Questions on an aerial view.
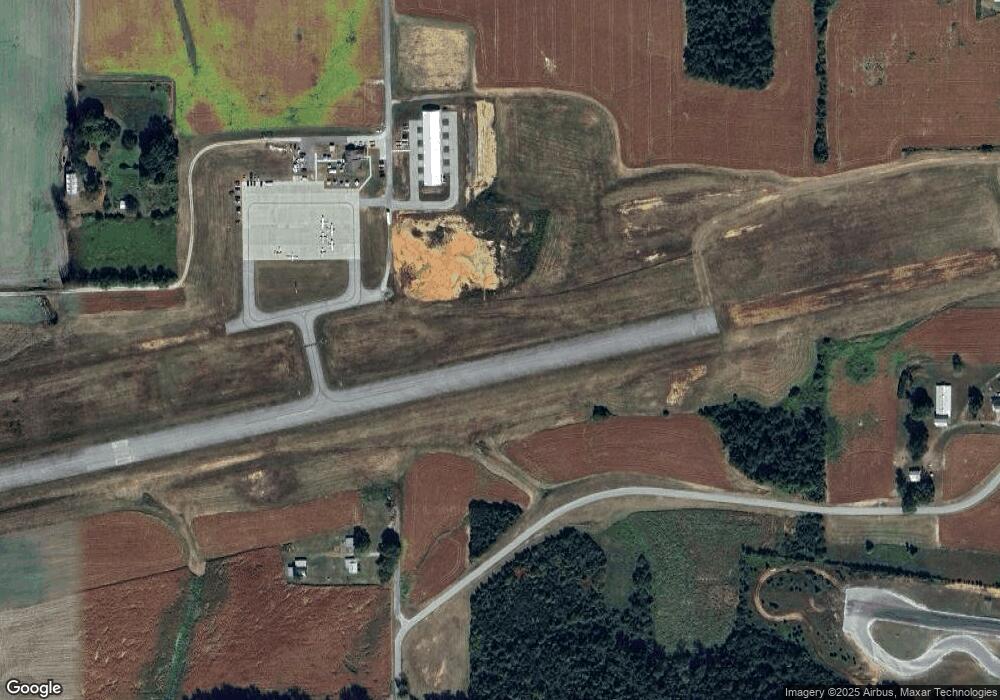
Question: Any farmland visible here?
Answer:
Yes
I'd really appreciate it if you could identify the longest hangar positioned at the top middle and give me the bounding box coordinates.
[423,111,443,189]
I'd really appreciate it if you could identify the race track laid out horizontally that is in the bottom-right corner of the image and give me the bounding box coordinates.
[843,587,1000,679]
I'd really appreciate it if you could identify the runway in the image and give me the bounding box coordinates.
[0,309,719,491]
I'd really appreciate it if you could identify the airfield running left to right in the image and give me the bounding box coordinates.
[0,112,719,491]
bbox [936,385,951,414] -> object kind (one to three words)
barn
